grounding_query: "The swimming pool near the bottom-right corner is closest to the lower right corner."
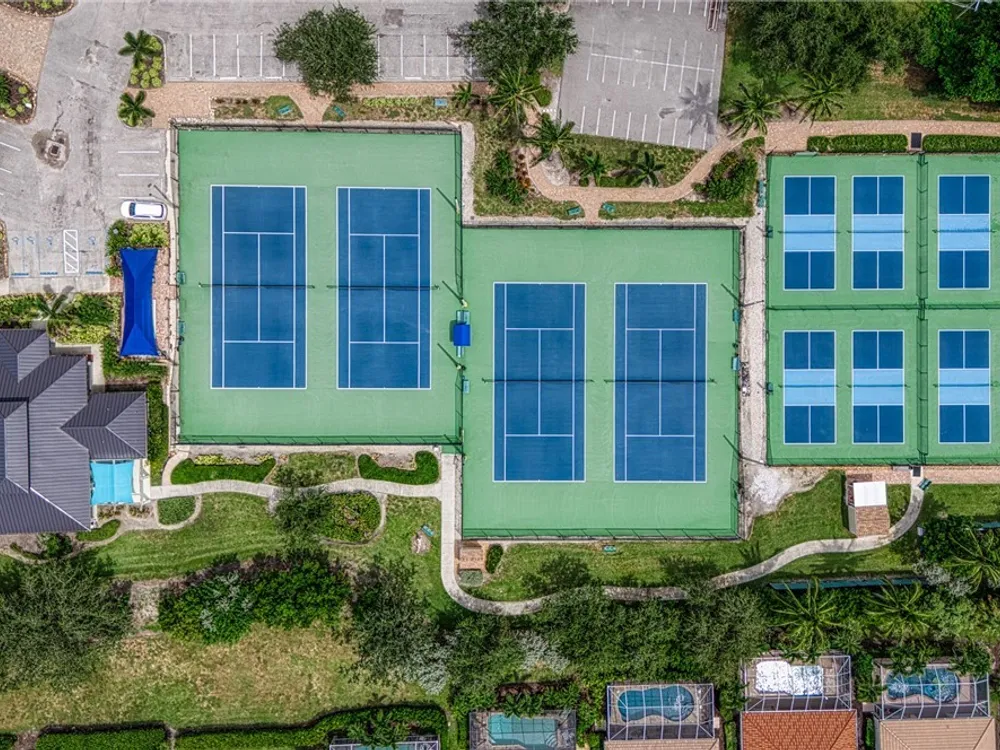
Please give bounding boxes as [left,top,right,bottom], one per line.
[877,654,984,718]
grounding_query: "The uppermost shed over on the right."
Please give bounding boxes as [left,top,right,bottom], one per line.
[845,479,890,537]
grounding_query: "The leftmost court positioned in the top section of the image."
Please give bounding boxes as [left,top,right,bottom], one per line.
[179,130,322,444]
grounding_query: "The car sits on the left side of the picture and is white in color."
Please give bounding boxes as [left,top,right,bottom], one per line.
[121,199,167,221]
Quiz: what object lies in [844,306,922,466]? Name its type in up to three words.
sports court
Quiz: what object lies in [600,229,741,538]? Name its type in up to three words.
tennis court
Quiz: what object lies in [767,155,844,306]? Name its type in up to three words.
sports court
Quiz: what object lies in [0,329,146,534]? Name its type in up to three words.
building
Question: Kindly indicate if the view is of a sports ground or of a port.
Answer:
sports ground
